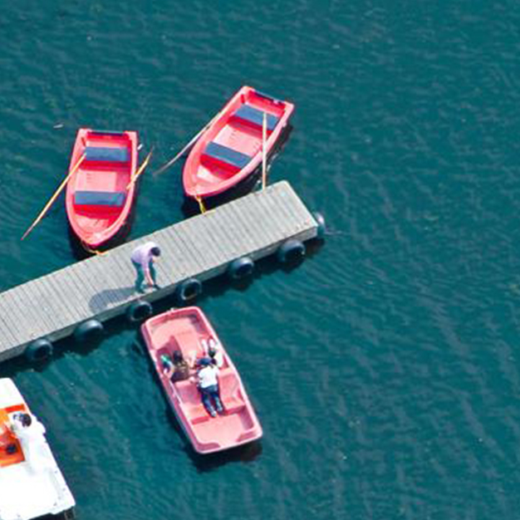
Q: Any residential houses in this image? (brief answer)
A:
No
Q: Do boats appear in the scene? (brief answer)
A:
Yes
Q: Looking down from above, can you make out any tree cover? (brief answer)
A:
No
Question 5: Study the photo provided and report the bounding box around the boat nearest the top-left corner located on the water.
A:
[67,132,140,249]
